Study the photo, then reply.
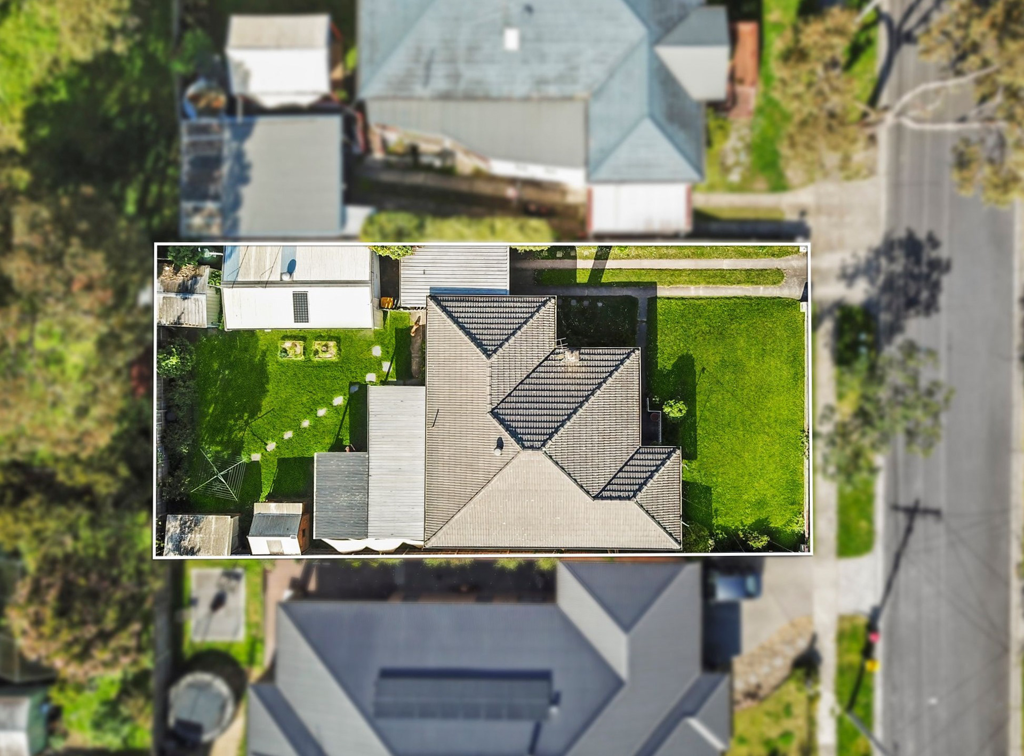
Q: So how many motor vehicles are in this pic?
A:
one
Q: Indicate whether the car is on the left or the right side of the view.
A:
right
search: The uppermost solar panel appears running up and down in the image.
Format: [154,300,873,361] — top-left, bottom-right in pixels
[295,292,310,323]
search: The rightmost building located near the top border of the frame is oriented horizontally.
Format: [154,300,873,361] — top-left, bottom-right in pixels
[356,0,730,184]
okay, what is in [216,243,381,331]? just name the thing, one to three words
shed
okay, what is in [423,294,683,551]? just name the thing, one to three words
house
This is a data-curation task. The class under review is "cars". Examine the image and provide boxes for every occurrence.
[704,565,761,605]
